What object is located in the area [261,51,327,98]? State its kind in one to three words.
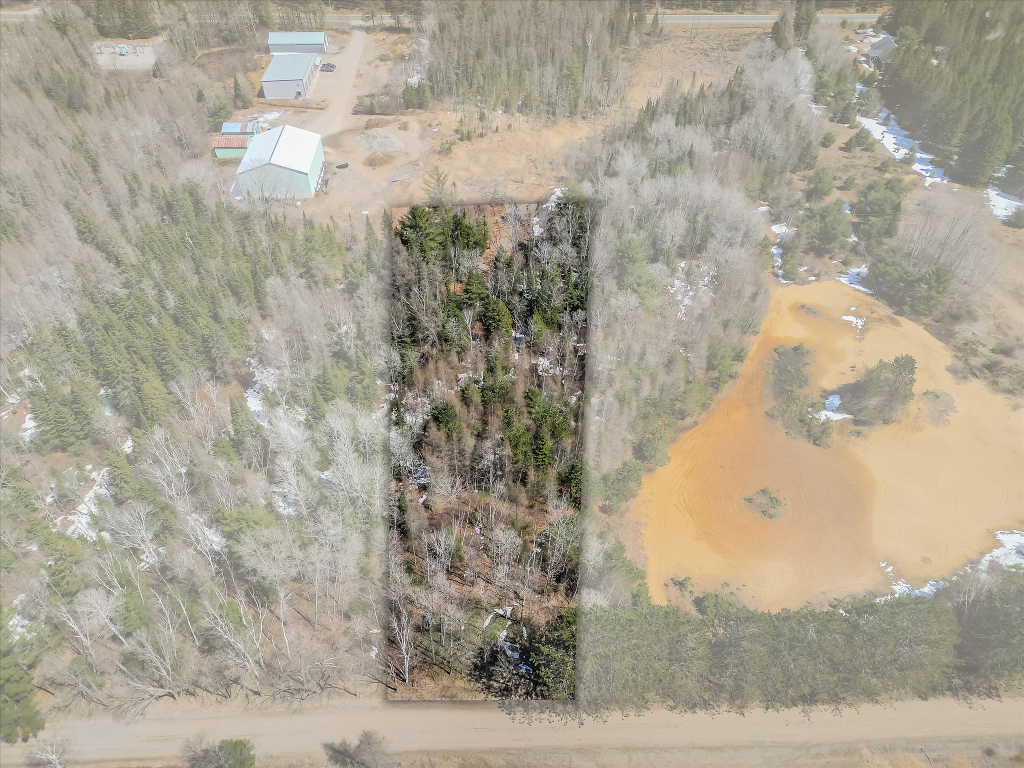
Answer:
building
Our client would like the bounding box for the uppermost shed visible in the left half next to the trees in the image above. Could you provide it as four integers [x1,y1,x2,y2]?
[267,31,331,53]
